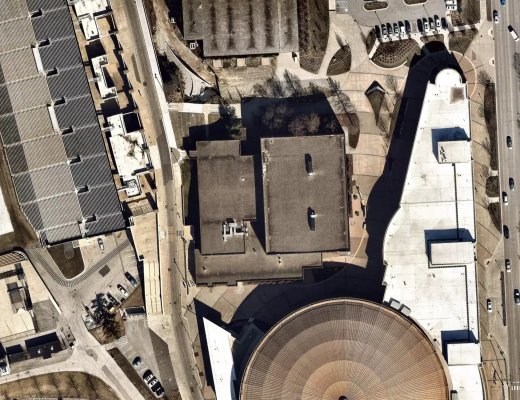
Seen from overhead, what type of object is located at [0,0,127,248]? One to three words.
building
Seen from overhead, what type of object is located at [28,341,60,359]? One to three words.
shed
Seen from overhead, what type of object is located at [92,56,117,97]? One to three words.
house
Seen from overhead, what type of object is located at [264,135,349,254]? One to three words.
building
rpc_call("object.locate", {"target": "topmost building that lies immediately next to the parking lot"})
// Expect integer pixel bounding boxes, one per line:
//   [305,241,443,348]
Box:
[183,0,299,56]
